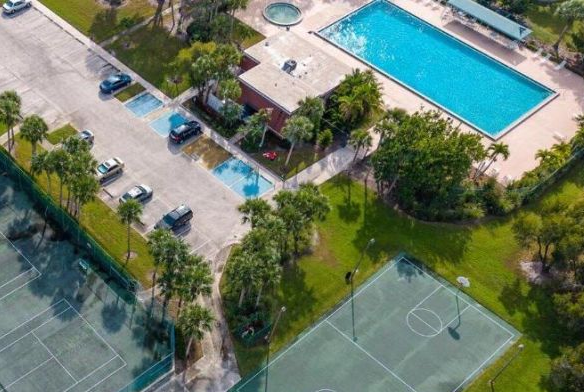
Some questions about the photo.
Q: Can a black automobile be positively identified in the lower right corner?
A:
No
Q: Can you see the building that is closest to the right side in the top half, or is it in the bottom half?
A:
top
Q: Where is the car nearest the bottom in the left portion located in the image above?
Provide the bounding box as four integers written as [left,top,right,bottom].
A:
[155,201,196,231]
